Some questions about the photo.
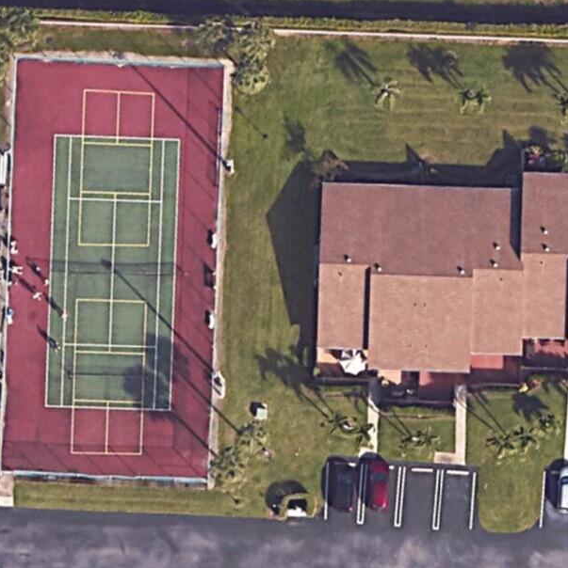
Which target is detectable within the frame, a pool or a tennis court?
tennis court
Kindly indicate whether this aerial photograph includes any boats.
No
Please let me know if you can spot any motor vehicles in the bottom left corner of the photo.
No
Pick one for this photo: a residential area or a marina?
residential area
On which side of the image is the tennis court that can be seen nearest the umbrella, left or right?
left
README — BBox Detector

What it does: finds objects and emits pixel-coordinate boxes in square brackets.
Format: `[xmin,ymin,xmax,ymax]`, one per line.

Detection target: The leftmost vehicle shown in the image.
[328,461,354,514]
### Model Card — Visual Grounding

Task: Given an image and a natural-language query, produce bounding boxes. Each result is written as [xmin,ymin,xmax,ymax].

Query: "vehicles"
[556,466,568,515]
[366,461,392,513]
[328,461,354,514]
